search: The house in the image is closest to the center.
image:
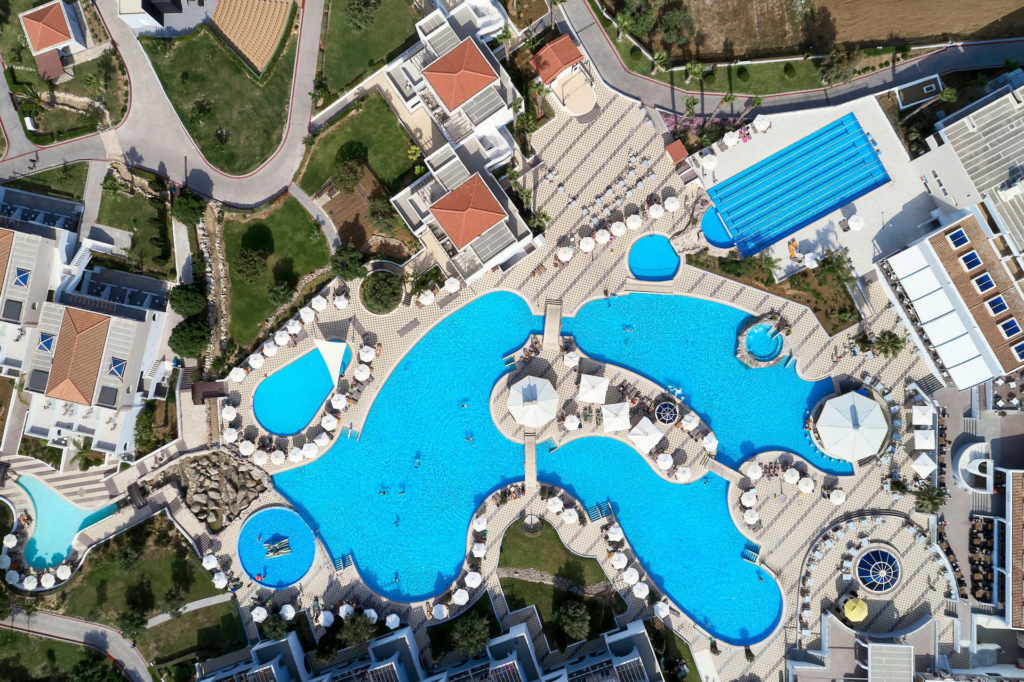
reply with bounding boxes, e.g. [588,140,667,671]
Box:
[392,144,533,284]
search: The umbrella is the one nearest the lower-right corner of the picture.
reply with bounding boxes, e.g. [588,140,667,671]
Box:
[844,598,868,622]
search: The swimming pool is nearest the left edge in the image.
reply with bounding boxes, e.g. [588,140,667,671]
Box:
[12,472,123,572]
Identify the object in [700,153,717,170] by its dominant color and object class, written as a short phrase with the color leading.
white umbrella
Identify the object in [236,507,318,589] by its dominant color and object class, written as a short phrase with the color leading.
blue swimming pool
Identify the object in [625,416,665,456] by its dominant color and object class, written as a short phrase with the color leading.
white tent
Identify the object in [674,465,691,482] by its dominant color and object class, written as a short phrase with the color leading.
white umbrella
